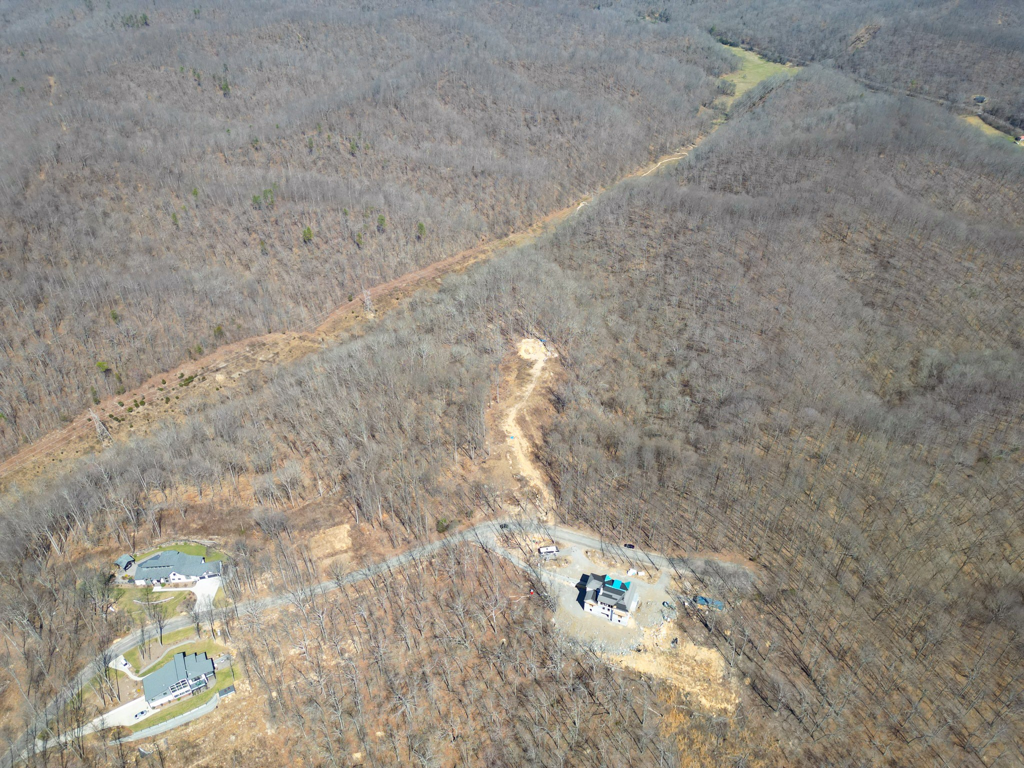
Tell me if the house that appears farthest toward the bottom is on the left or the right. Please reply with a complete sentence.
You can find the house that appears farthest toward the bottom on the left side of the picture.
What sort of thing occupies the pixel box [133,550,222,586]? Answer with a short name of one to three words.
house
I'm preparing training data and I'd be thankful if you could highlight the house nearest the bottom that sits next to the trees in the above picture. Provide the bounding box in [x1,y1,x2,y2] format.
[144,654,218,714]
